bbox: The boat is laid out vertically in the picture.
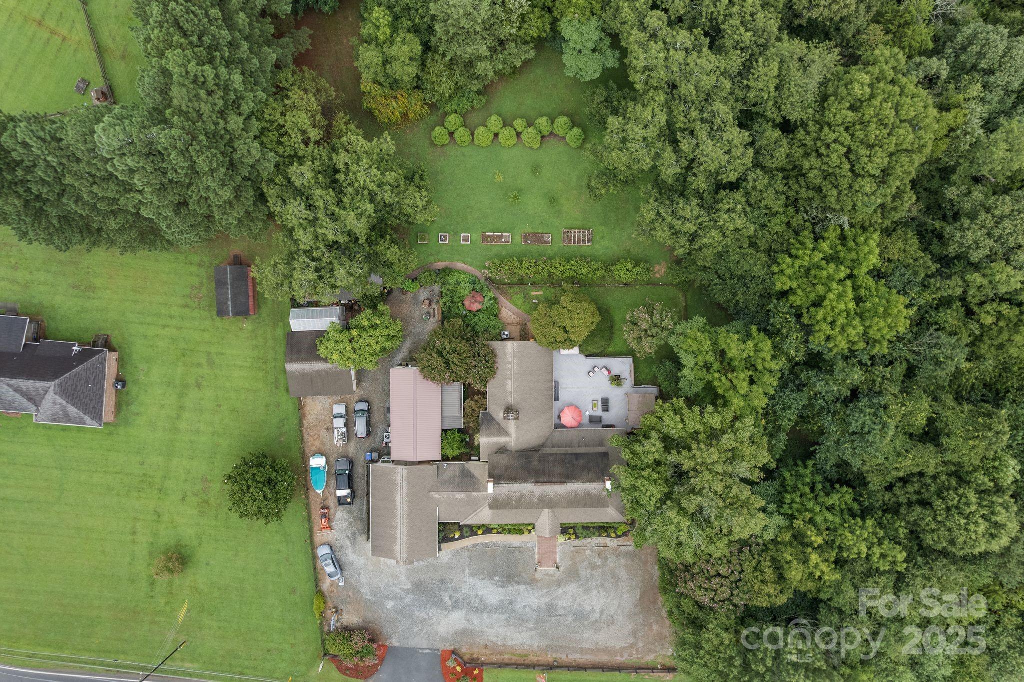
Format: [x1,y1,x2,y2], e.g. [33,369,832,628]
[309,452,329,497]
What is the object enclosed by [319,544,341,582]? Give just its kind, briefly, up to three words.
car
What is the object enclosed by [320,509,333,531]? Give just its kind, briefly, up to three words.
vehicle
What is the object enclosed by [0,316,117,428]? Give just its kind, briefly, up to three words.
house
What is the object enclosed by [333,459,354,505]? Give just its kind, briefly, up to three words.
truck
